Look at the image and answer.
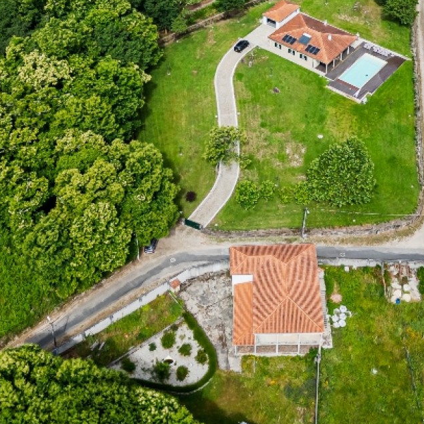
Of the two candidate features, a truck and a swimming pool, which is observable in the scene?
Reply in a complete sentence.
This aerial view contains a swimming pool.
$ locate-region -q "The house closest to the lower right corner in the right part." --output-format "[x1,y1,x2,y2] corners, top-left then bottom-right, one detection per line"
[229,244,325,364]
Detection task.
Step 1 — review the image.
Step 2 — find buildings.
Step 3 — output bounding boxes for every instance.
[266,13,358,77]
[167,277,182,293]
[229,244,325,364]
